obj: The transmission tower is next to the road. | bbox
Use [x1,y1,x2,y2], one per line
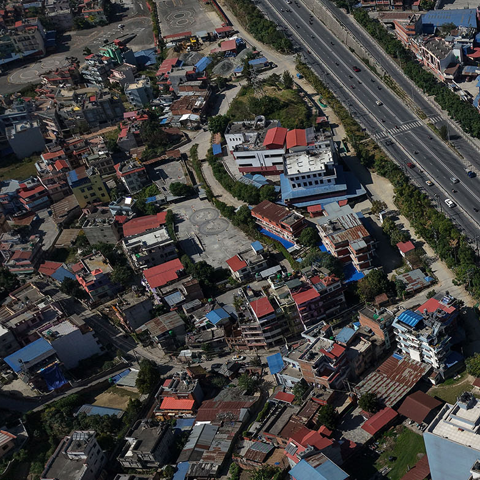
[242,61,264,101]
